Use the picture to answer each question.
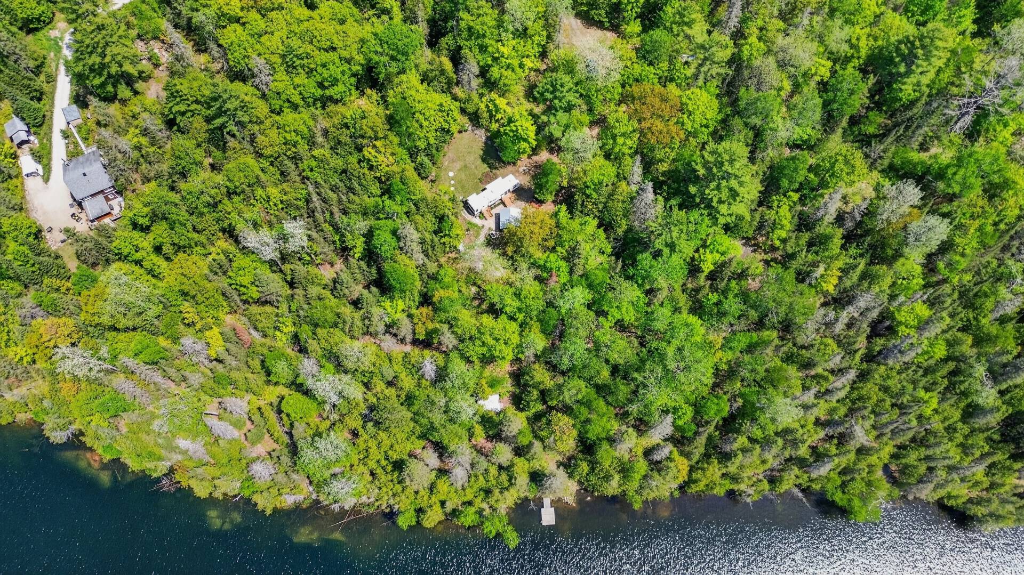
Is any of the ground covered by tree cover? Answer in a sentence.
Yes, there is tree cover in the image.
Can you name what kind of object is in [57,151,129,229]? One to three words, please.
house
